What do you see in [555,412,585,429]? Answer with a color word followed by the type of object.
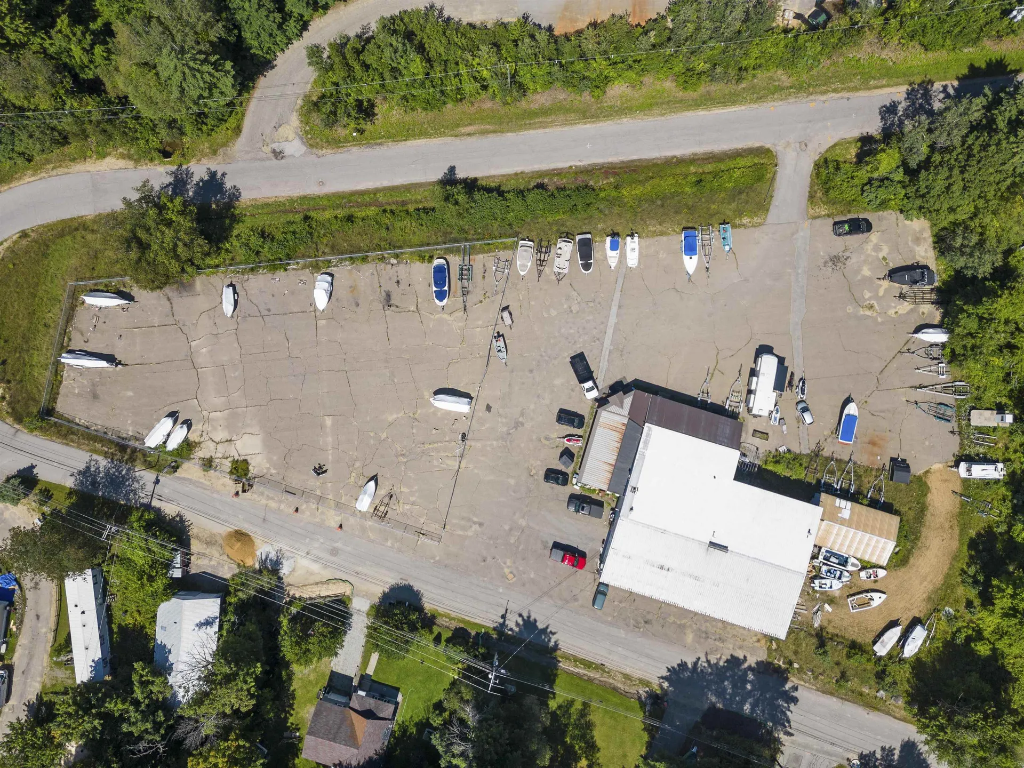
black car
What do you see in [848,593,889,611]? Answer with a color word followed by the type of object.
white boat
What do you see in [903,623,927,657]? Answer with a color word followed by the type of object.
white boat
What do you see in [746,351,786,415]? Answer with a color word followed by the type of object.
white vehicle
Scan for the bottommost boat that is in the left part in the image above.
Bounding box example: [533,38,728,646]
[357,478,377,509]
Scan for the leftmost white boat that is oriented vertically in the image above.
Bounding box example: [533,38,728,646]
[223,285,236,316]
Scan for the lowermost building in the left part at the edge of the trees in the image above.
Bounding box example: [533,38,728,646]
[302,683,399,768]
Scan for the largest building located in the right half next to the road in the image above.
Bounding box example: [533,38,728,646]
[600,390,822,641]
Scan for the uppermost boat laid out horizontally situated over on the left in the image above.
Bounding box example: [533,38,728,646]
[80,292,132,307]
